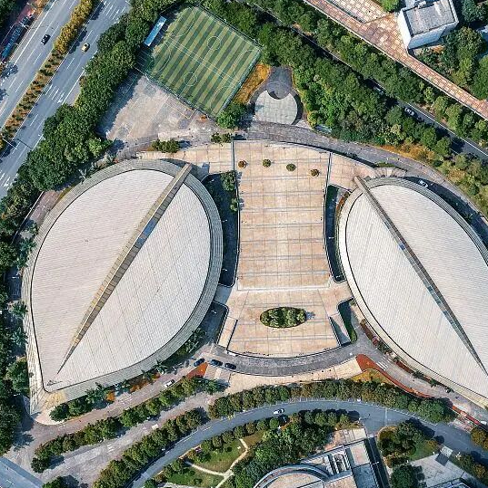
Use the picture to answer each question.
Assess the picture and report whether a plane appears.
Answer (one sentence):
No, the photo shows no plane.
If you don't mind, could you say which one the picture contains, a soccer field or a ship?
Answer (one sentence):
It is a soccer field that can be seen here.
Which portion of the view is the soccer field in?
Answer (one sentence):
You can find the soccer field in the top area of the picture.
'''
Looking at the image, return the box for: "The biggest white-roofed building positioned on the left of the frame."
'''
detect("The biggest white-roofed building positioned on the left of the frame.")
[26,158,222,416]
